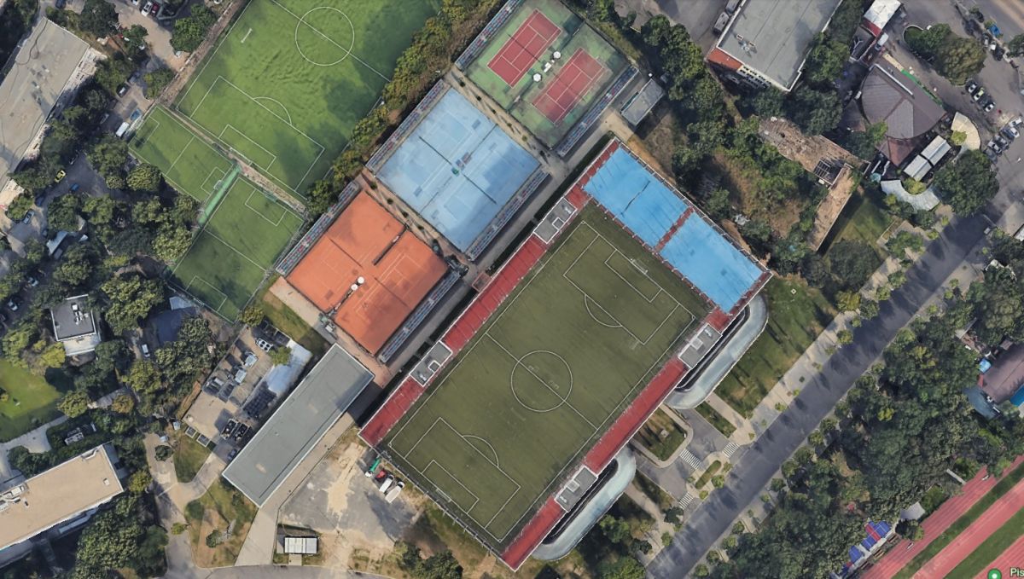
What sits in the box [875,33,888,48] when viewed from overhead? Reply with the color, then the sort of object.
white vehicle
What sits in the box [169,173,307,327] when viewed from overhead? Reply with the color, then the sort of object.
green soccer field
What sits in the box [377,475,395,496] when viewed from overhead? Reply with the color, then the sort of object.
white vehicle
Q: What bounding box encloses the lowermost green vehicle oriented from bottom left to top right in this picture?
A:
[366,457,381,476]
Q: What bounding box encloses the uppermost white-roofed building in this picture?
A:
[860,0,901,33]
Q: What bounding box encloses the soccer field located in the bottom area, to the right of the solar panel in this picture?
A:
[379,201,715,552]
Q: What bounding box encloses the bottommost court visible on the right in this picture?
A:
[661,211,762,312]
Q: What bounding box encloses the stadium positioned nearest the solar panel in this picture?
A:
[359,140,773,571]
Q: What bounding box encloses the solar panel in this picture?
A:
[244,383,276,417]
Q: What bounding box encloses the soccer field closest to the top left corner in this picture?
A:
[128,101,235,207]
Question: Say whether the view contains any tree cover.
Yes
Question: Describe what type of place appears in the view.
sports ground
